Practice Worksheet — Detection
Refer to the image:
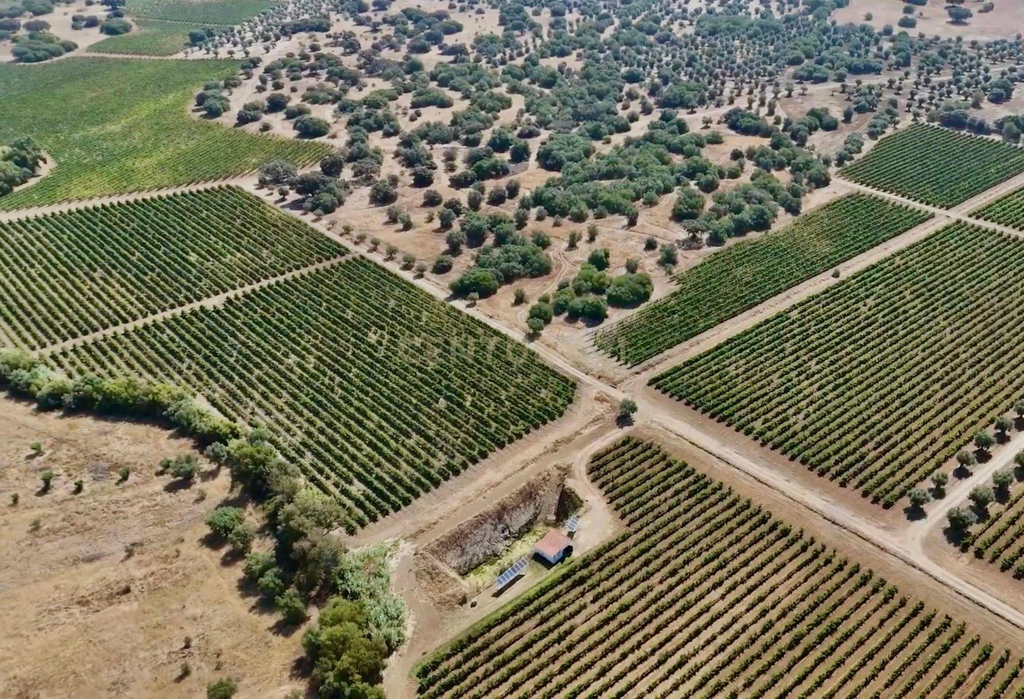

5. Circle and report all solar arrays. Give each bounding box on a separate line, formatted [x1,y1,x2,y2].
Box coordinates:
[566,519,581,534]
[494,563,530,590]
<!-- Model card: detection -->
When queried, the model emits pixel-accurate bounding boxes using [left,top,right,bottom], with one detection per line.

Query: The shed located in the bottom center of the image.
[531,531,575,569]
